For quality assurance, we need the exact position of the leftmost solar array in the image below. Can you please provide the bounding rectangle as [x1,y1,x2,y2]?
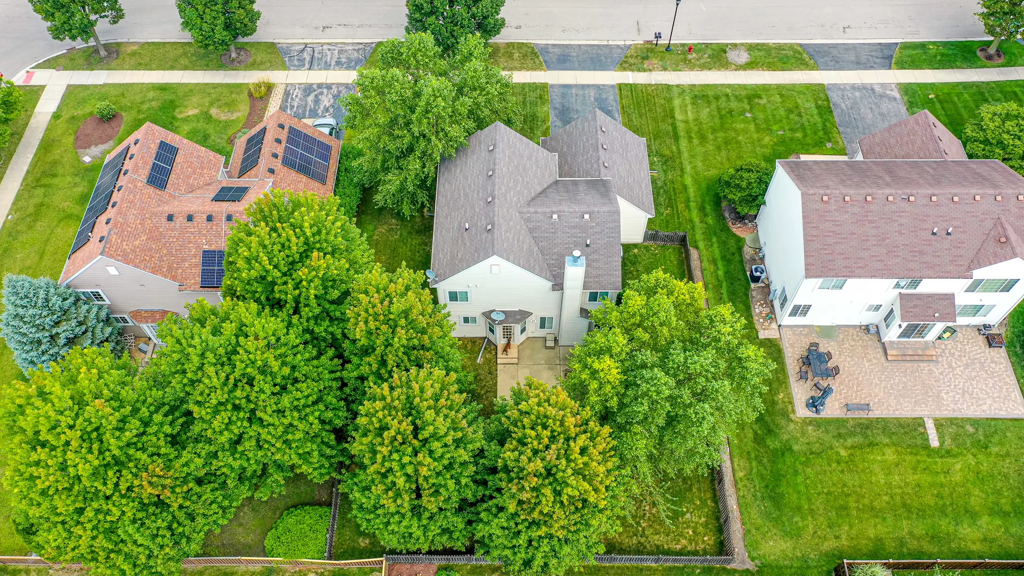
[63,137,131,268]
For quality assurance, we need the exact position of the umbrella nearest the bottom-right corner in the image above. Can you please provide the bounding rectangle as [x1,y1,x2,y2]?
[807,379,838,413]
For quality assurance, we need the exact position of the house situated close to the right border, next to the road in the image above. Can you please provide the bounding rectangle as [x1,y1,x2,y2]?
[757,110,1024,360]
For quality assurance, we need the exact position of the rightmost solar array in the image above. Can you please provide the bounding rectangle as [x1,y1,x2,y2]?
[286,124,335,181]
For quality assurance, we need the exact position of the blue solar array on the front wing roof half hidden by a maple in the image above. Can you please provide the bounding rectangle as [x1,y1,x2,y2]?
[202,251,233,286]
